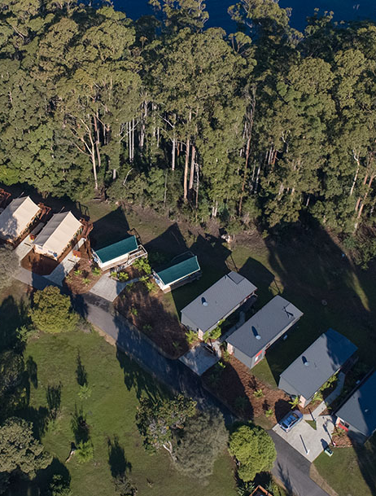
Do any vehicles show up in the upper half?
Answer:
No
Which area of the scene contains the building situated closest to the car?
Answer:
bottom right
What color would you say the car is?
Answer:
blue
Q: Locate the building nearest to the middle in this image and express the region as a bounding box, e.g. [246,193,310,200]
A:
[151,255,211,300]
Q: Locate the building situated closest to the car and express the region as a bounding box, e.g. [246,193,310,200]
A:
[279,328,358,410]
